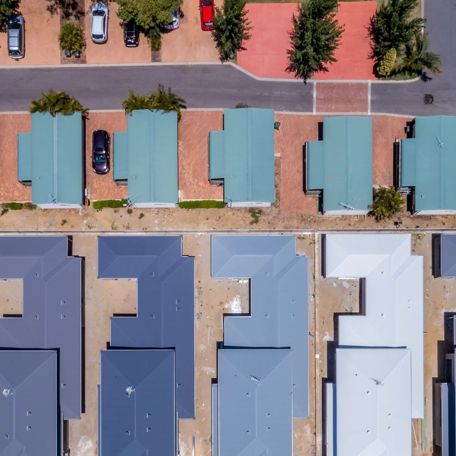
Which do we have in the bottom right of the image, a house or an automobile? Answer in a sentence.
Visible in the bottom right of the image is a house.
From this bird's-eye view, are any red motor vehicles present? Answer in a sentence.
Yes, there is a red motor vehicle in the image.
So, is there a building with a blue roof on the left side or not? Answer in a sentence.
Yes, the scene does show a building with a blue roof on the left side.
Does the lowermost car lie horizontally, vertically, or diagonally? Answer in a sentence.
The lowermost car is laid out vertically.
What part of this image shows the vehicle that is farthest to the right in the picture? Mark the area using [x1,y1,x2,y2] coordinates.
[198,0,217,33]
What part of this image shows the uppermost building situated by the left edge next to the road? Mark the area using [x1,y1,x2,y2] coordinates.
[17,111,83,208]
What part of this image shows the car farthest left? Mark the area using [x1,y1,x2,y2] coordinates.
[7,13,26,63]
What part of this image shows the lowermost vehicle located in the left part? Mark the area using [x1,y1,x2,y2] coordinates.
[90,129,111,175]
